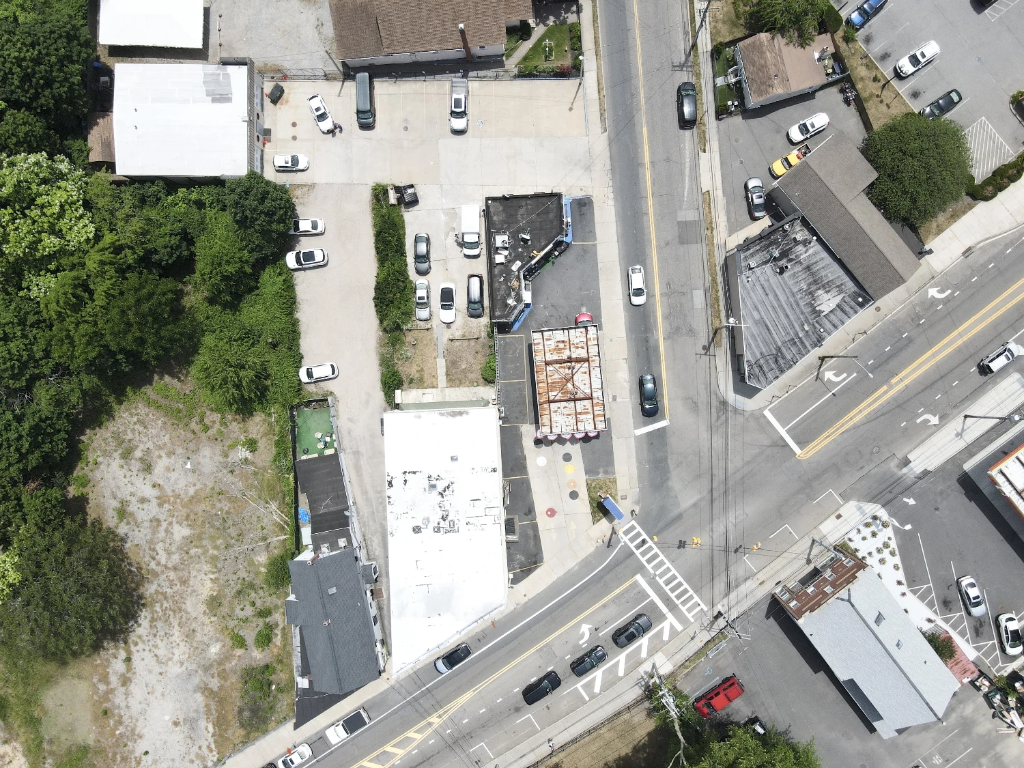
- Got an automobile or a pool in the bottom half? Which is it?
automobile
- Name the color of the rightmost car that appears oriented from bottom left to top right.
white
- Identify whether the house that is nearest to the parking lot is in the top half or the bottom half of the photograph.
top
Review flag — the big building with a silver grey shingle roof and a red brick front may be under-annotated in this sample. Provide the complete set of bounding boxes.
[766,543,961,739]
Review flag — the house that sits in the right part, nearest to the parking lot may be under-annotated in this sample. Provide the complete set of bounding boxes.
[729,32,839,110]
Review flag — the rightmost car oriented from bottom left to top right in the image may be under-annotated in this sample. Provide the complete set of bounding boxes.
[975,340,1022,375]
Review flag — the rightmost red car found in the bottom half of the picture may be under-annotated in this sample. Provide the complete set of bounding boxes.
[690,679,747,717]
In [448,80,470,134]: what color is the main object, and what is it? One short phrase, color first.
white truck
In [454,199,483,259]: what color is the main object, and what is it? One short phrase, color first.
white truck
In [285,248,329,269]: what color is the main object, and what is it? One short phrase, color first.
white car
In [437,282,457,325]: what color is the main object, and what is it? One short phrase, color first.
white car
